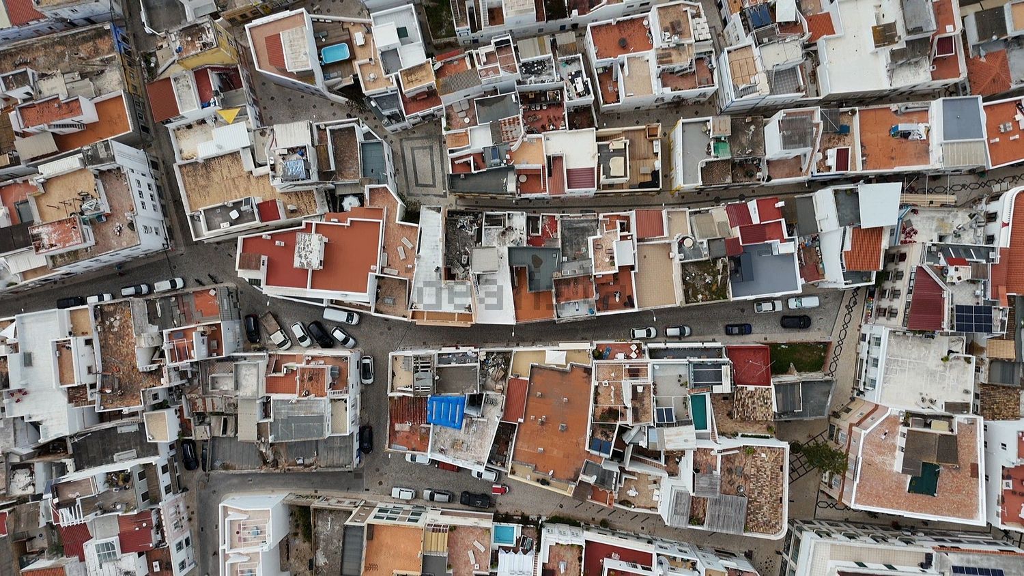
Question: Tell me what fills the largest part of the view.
buildings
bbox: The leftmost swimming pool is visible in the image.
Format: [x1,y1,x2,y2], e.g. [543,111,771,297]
[323,45,348,62]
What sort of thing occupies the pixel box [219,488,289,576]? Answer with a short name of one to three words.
house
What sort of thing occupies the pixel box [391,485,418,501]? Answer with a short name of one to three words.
vehicle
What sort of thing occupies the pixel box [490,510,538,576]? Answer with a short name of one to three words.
house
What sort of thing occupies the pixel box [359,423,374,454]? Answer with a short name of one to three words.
car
